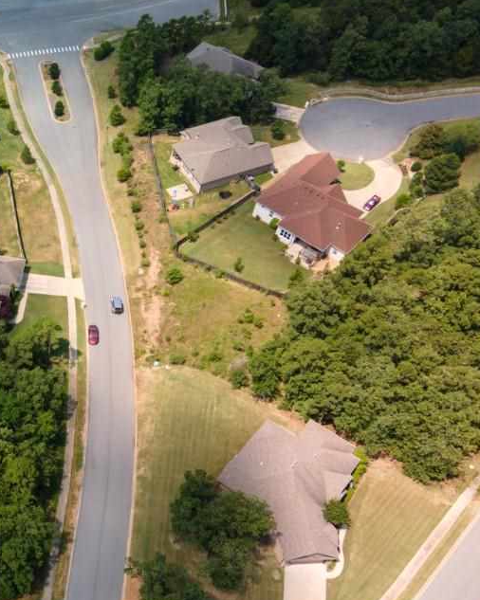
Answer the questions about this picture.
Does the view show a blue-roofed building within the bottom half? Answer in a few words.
No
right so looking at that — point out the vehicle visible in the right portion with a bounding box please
[364,197,380,210]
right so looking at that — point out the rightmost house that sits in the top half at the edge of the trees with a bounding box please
[255,153,379,262]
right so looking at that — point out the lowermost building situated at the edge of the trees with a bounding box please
[219,419,361,573]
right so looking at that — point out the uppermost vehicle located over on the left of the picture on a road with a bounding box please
[110,295,124,314]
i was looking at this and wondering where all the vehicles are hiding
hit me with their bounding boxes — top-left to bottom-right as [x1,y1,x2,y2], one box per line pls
[364,197,380,210]
[89,325,100,345]
[110,295,124,314]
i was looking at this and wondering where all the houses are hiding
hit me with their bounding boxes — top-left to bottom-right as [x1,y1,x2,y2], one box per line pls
[255,153,379,262]
[219,419,361,573]
[0,256,26,300]
[174,116,294,192]
[187,42,264,91]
